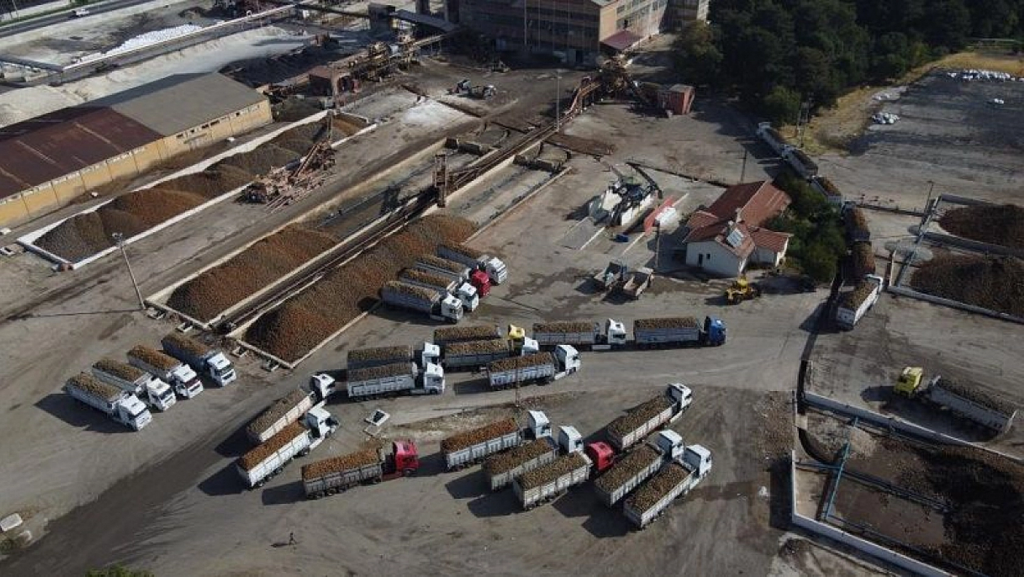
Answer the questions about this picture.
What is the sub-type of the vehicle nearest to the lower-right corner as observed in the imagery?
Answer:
truck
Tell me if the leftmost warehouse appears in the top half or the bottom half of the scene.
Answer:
top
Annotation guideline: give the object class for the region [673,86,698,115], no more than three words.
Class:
shed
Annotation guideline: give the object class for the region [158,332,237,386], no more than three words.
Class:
truck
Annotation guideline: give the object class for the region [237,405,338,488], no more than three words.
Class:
truck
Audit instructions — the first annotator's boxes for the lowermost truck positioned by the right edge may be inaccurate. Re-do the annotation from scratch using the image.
[895,373,1015,436]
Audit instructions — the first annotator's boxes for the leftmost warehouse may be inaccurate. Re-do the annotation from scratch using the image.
[0,75,264,227]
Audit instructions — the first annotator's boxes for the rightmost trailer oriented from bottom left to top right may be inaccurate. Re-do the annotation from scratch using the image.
[837,275,876,324]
